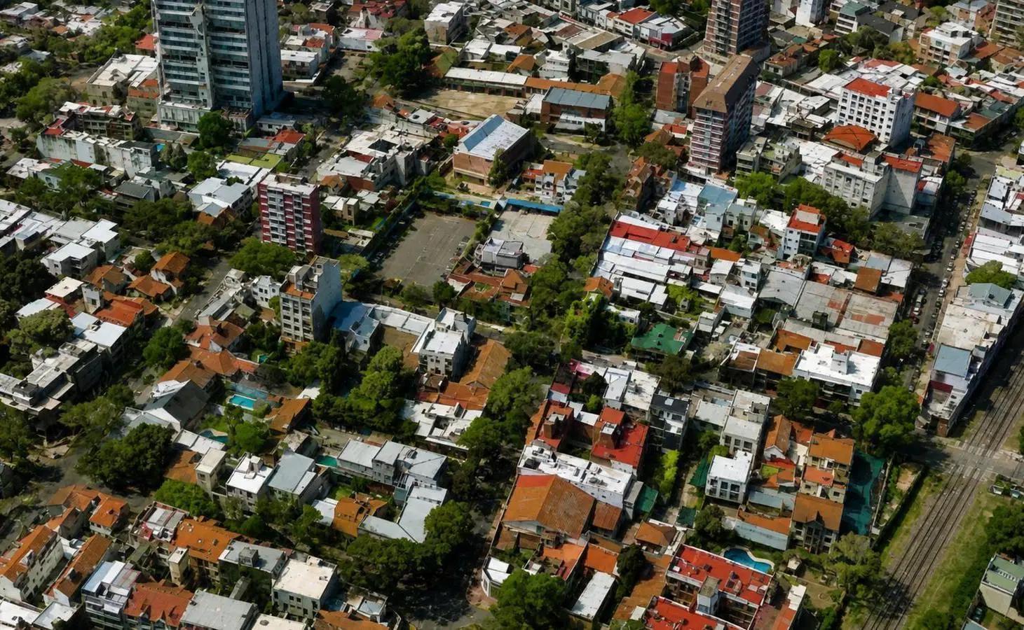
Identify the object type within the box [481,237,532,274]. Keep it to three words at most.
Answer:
building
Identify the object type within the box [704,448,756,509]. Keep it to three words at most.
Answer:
house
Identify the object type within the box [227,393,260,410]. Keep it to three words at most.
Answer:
swimming pool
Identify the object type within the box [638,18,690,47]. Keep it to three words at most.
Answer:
house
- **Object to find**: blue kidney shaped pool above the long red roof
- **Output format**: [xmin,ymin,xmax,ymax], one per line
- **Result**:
[722,546,775,575]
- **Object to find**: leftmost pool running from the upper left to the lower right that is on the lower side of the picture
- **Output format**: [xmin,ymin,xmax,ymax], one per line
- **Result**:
[199,429,225,446]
